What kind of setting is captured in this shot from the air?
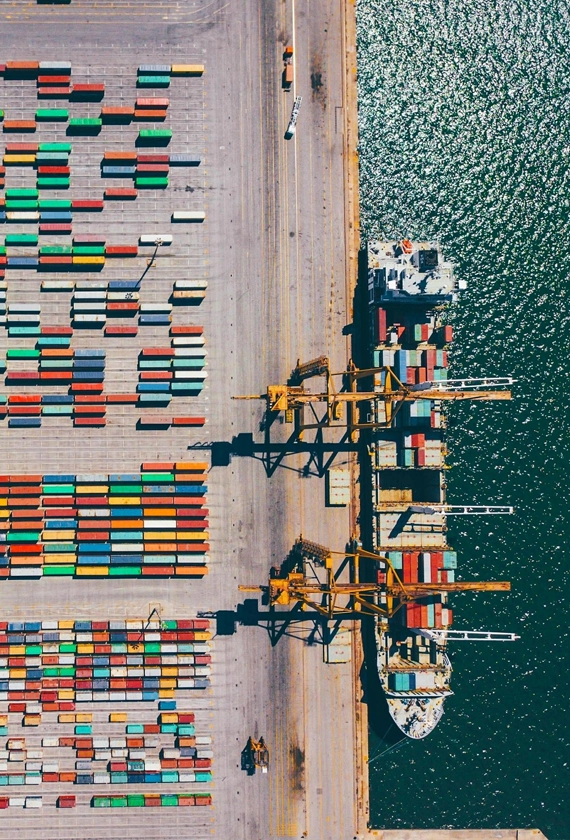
port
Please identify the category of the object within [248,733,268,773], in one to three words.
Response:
work vehicle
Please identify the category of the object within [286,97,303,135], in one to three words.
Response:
vehicle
